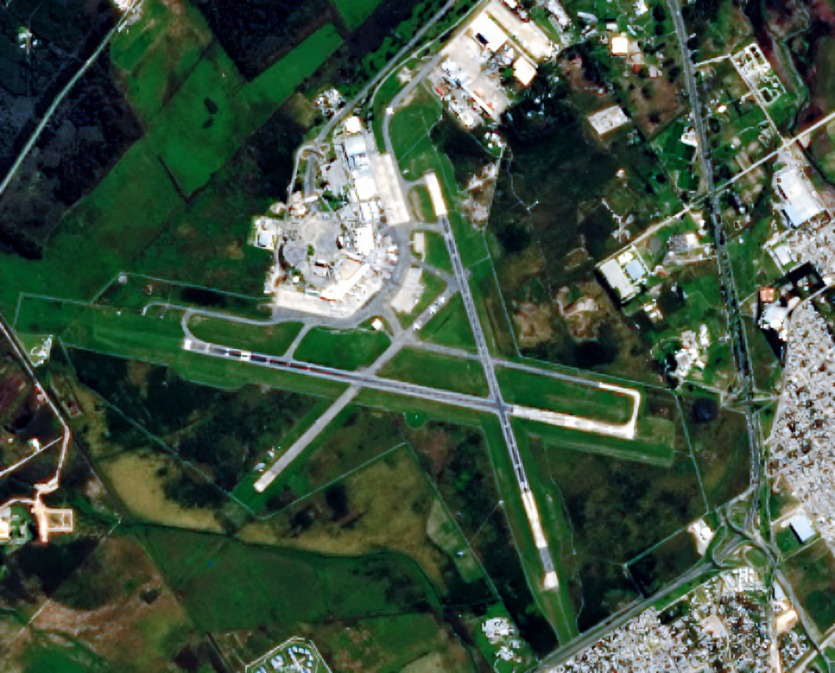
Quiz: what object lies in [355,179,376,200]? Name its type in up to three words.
hangar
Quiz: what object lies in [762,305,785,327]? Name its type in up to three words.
building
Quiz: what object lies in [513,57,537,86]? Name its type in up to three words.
building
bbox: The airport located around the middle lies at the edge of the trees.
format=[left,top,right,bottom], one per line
[142,32,640,592]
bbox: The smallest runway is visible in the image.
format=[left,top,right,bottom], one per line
[255,285,469,492]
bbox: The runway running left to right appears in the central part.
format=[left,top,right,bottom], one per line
[183,339,635,439]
